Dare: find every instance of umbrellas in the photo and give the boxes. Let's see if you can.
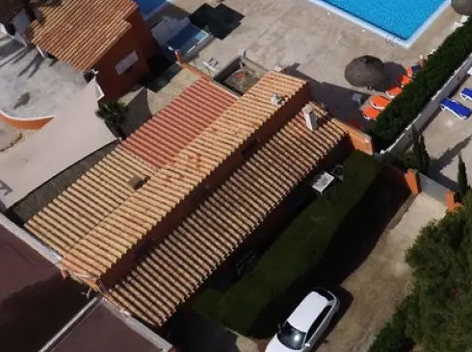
[345,59,386,95]
[450,0,472,21]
